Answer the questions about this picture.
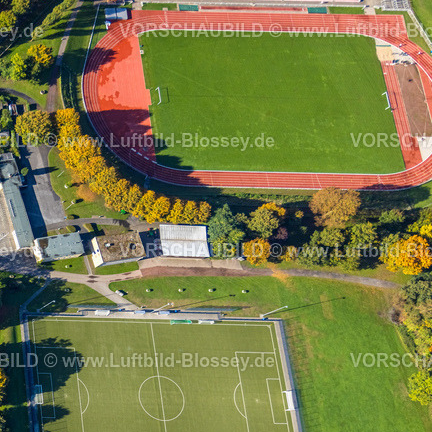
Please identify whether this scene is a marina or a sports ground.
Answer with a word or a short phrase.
sports ground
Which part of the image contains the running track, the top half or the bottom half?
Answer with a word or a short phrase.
top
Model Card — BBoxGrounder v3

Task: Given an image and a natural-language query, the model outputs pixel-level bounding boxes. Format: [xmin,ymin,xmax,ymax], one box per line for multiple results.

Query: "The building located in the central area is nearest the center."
[155,225,209,260]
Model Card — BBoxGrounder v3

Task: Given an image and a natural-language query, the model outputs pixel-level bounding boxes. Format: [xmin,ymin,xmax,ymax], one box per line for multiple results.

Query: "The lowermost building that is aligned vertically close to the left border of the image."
[1,180,33,251]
